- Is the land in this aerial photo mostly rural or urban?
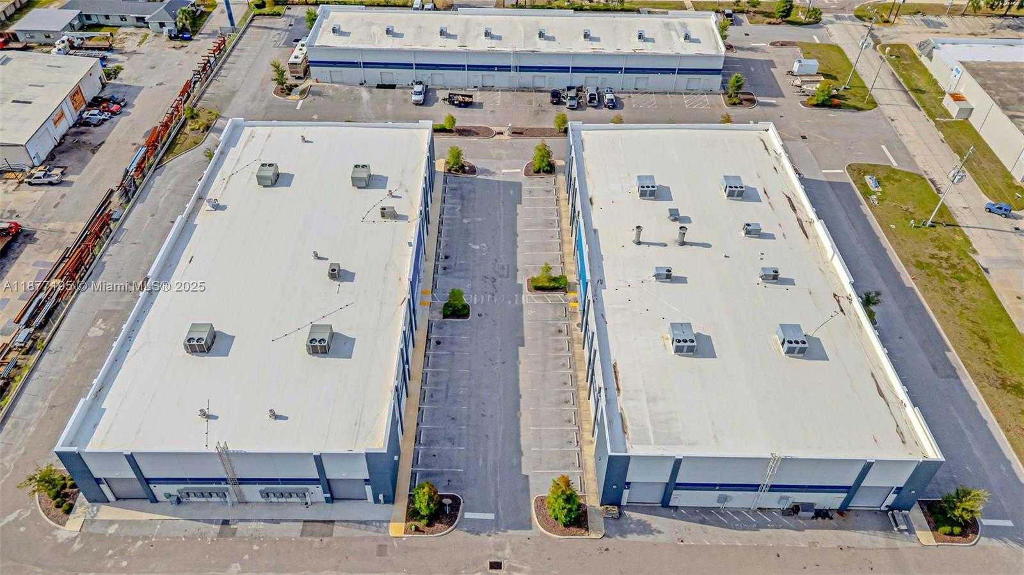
urban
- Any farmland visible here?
No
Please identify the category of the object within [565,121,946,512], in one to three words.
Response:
warehouse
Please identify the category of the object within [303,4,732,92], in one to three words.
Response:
building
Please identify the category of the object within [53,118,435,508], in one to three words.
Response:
warehouse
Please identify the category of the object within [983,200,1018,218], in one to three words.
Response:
car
